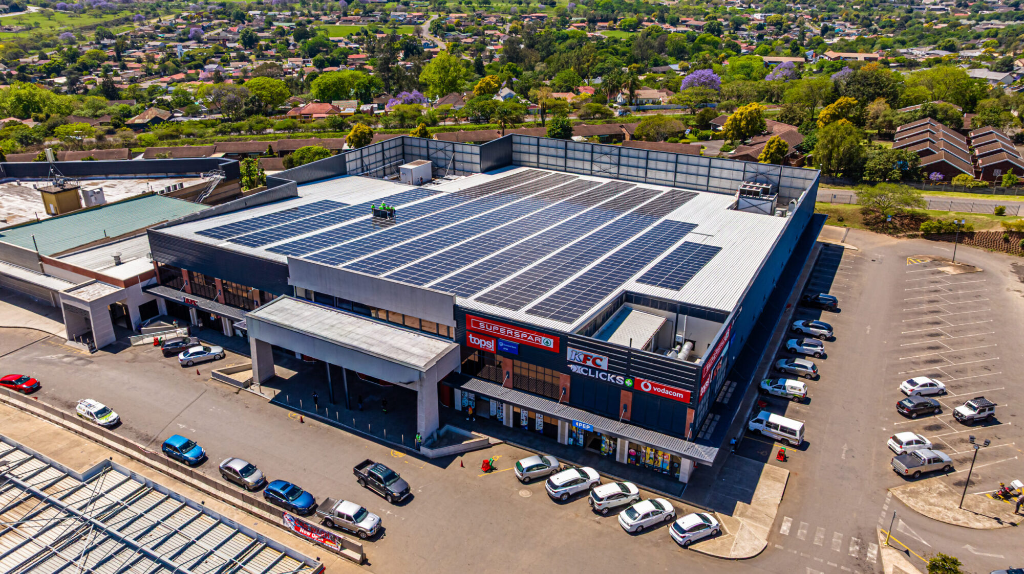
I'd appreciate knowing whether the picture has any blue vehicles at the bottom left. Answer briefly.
Yes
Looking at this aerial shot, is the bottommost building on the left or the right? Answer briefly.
left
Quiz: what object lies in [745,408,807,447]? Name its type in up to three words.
vehicle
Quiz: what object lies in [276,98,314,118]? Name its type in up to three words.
house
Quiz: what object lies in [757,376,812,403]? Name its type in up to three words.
truck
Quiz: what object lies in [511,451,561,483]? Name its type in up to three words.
car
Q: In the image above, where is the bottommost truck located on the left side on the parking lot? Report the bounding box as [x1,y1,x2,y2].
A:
[316,498,385,540]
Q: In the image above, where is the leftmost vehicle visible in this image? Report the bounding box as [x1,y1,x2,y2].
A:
[5,368,42,392]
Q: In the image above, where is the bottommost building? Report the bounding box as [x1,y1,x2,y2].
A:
[0,436,321,574]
